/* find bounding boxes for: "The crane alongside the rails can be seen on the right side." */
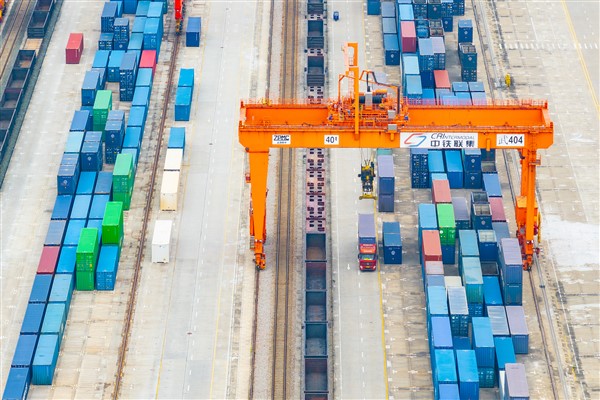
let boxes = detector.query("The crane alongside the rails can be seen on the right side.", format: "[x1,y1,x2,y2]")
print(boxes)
[240,43,554,269]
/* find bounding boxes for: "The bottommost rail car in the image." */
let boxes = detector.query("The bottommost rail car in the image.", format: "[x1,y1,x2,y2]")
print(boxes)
[305,220,325,233]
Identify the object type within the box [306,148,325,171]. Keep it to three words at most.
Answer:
rail car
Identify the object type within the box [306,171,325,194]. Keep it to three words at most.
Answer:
rail car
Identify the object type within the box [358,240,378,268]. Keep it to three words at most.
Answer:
vehicle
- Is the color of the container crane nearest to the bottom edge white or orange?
orange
